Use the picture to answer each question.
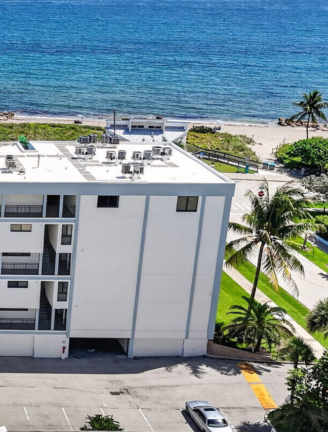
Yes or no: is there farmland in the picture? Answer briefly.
No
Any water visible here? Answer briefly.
Yes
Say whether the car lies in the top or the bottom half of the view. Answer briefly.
bottom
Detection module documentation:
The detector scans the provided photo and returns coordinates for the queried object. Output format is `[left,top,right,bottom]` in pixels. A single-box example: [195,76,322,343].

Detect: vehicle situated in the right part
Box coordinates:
[189,402,237,431]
